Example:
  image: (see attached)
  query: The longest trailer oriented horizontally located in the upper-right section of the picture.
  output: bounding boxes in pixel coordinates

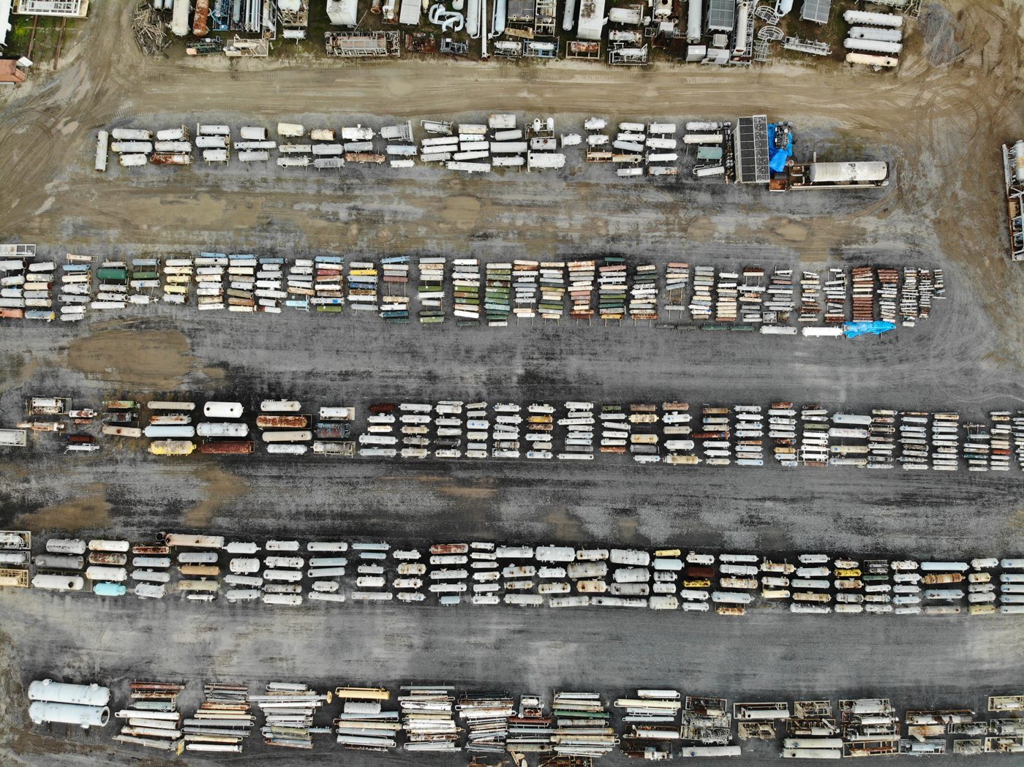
[787,160,890,191]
